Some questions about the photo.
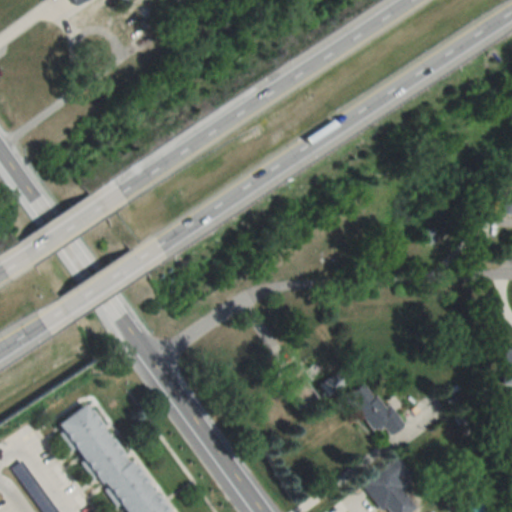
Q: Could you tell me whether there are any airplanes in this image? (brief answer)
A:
No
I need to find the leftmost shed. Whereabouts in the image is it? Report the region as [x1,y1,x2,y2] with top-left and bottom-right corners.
[10,460,57,512]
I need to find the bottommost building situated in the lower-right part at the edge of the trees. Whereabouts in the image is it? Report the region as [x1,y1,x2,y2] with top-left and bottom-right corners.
[364,460,420,512]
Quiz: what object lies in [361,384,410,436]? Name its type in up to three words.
house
